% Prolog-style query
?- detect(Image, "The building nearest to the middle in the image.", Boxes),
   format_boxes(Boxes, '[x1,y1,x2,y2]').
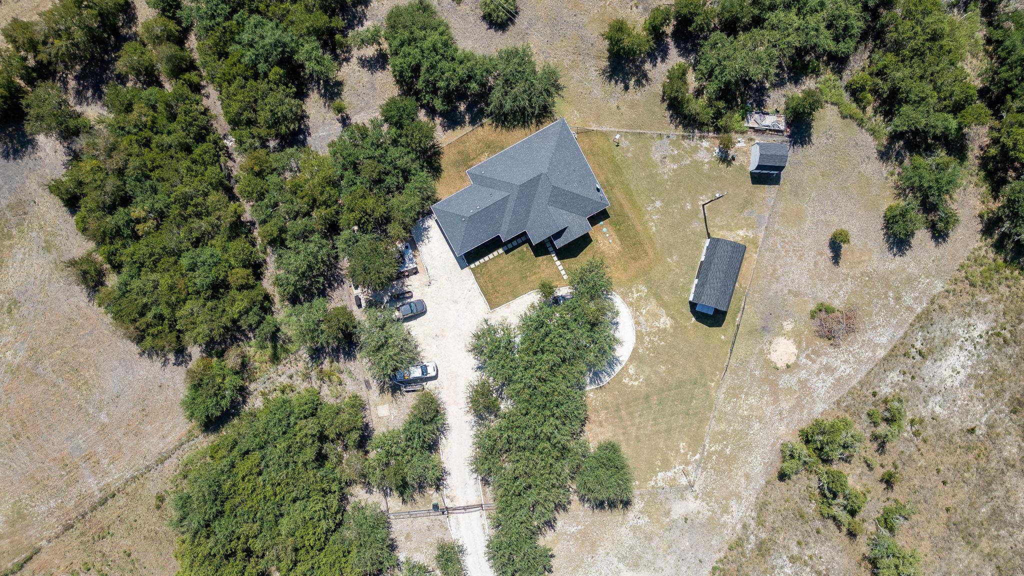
[430,117,611,257]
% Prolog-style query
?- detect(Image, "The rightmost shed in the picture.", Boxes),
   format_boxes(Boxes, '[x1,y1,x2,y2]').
[749,141,792,172]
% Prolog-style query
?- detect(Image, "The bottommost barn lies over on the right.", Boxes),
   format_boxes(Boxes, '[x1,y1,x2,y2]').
[689,237,747,312]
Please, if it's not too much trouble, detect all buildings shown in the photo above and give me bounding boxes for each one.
[430,117,611,257]
[689,237,747,312]
[749,141,792,172]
